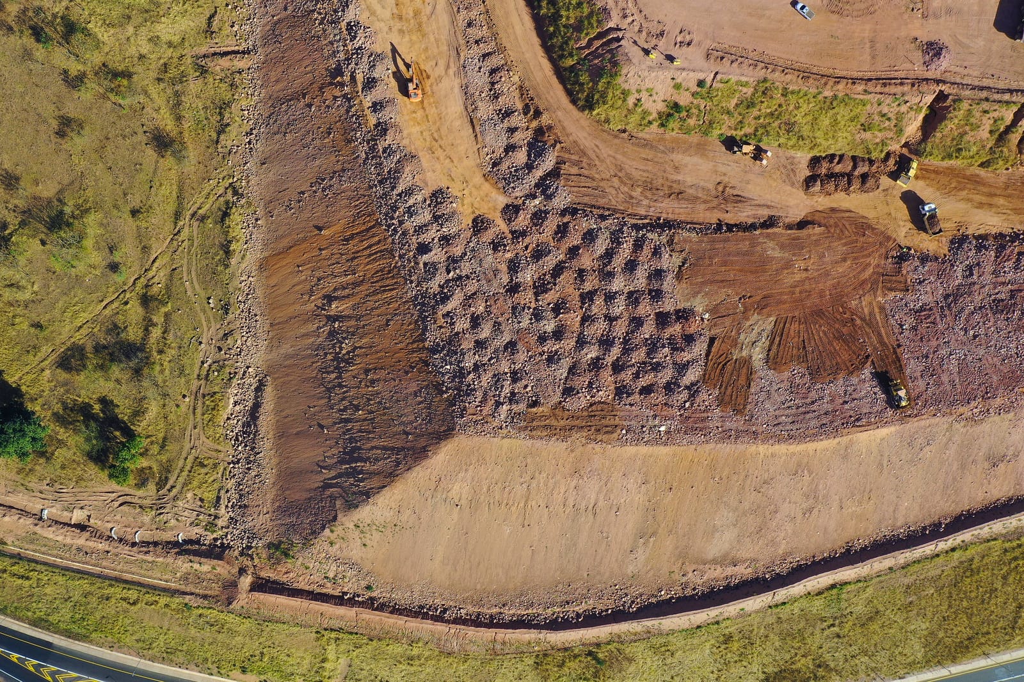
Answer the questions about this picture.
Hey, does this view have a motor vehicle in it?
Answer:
Yes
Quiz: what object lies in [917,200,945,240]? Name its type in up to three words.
truck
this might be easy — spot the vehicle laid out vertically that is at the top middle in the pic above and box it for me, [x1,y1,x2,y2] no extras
[407,57,426,105]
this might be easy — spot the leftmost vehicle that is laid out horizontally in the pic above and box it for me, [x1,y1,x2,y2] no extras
[731,142,768,160]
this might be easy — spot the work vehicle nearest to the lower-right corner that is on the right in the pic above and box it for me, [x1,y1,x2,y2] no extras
[885,381,912,408]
